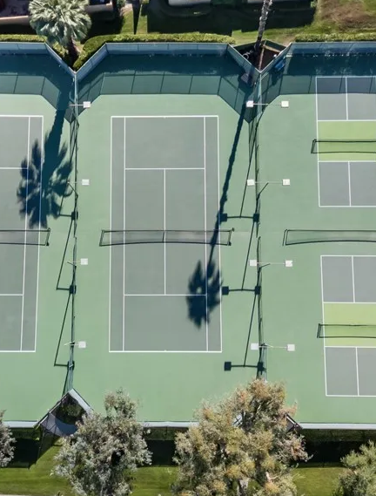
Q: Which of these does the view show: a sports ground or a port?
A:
sports ground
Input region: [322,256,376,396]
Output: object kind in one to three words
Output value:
sports court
